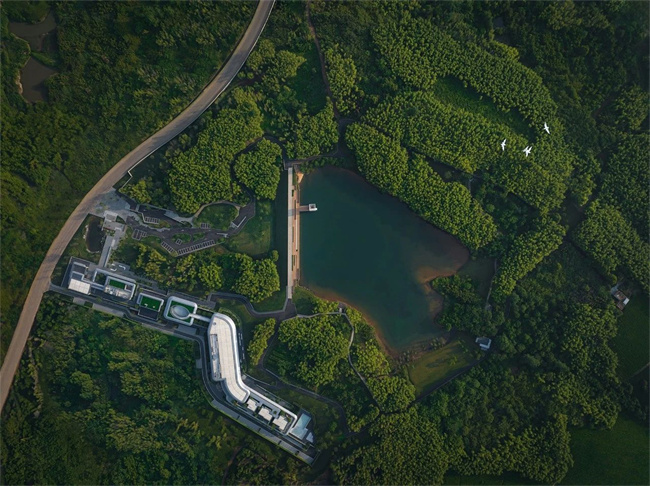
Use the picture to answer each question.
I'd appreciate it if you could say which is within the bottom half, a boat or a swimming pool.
swimming pool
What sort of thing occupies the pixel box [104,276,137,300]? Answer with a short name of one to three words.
building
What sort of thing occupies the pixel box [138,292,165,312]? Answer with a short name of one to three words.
building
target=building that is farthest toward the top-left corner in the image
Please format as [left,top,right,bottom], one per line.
[102,211,127,241]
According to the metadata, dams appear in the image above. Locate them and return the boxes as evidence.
[286,162,300,291]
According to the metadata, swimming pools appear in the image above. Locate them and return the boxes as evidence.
[289,409,316,443]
